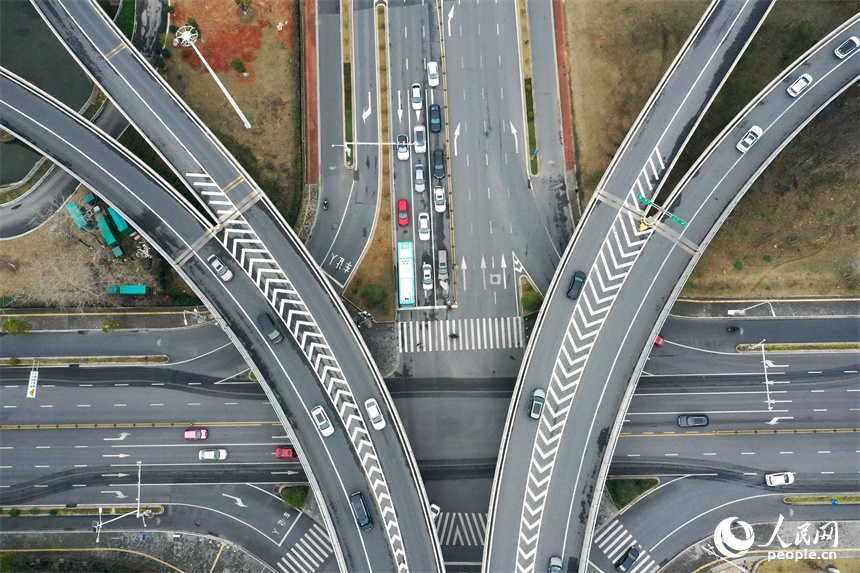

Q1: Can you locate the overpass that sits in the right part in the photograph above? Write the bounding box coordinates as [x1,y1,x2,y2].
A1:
[479,0,860,573]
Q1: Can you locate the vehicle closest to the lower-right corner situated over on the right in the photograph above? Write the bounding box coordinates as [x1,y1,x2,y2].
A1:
[763,471,795,486]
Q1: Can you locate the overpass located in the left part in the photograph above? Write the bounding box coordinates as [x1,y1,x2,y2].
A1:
[0,0,447,573]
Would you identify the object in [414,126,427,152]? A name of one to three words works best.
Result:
vehicle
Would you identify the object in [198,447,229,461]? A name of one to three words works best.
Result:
car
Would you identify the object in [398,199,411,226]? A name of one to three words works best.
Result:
vehicle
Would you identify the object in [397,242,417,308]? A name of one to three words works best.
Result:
bus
